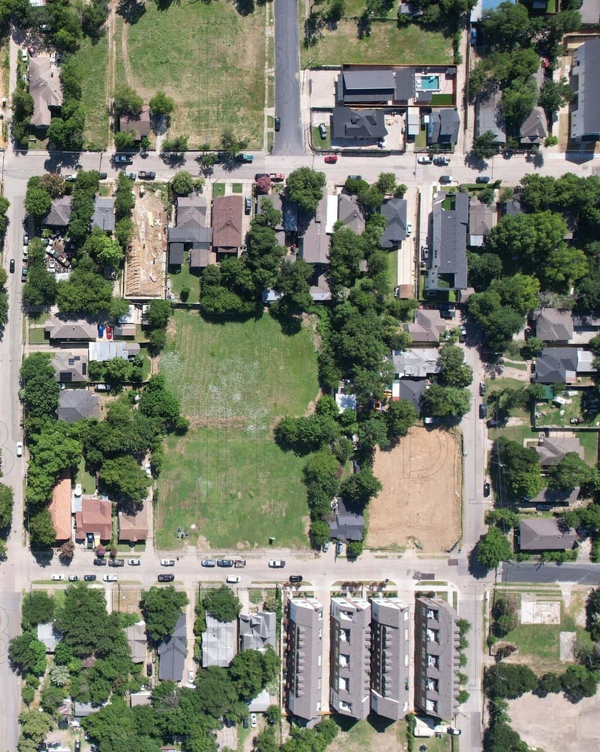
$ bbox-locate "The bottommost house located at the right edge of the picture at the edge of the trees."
[514,518,576,550]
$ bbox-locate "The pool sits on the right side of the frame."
[418,72,442,91]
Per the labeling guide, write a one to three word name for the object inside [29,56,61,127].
house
